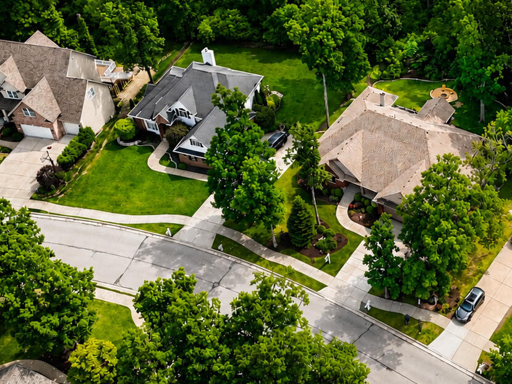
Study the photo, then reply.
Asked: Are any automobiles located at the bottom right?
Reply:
Yes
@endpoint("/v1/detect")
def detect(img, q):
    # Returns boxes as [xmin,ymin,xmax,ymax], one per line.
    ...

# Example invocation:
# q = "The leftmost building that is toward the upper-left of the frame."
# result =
[0,25,120,136]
